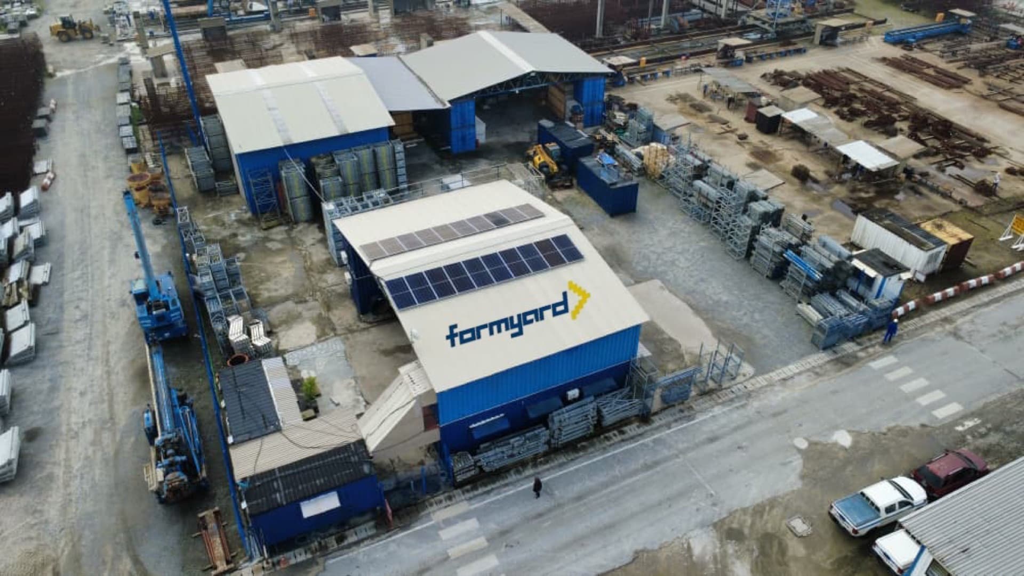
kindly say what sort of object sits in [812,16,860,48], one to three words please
shed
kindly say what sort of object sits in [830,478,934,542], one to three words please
truck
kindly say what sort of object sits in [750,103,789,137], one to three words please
shed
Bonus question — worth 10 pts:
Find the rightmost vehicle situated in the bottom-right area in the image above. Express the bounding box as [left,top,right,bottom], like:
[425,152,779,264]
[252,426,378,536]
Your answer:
[905,445,988,497]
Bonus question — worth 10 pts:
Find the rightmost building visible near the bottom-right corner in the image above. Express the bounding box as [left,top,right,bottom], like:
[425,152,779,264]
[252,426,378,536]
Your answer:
[893,459,1024,576]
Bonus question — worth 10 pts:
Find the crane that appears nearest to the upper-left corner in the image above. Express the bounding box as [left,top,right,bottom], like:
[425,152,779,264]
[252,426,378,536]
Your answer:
[121,188,188,347]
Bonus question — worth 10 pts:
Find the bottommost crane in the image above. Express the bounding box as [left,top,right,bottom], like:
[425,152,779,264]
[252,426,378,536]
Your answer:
[135,336,209,503]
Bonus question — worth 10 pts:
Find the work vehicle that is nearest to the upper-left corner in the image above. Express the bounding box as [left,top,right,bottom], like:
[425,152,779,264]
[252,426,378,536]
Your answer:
[46,11,106,42]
